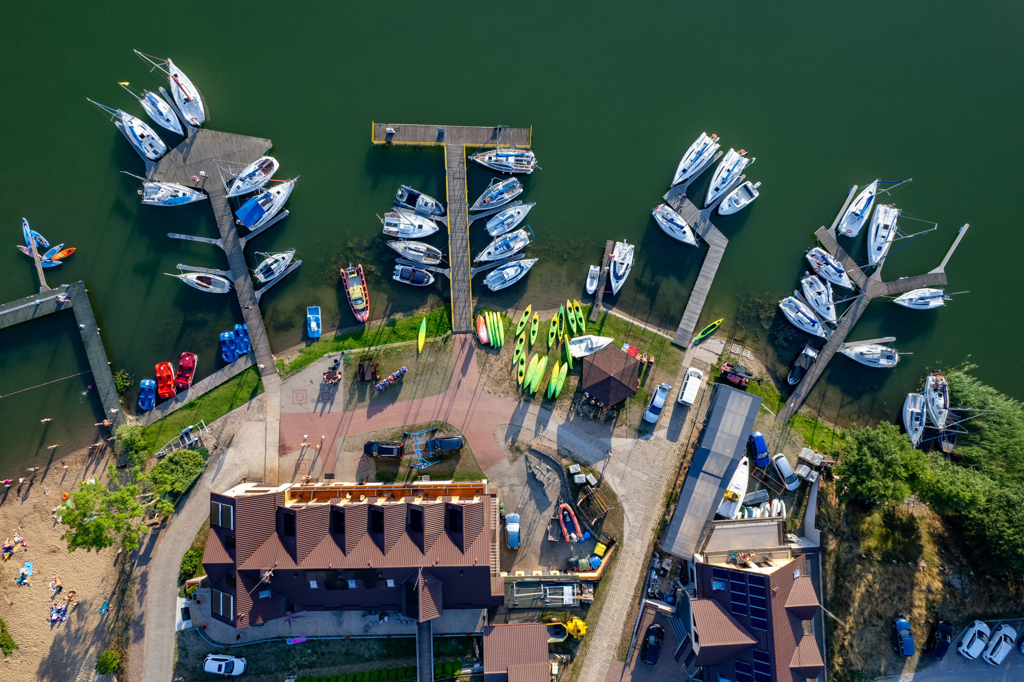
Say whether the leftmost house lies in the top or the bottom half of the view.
bottom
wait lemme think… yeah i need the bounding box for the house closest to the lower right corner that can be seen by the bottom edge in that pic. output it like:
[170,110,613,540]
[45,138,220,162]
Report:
[684,539,823,682]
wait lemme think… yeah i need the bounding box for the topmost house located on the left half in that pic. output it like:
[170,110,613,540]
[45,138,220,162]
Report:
[201,474,509,628]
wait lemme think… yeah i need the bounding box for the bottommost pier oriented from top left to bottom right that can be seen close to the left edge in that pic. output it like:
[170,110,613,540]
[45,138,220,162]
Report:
[0,237,128,431]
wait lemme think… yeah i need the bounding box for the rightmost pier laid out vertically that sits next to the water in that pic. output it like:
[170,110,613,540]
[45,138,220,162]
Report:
[663,151,745,347]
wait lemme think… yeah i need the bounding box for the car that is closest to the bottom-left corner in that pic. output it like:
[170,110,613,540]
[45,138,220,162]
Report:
[202,652,247,678]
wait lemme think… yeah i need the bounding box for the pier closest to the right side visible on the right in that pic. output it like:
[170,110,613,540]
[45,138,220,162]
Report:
[776,185,969,423]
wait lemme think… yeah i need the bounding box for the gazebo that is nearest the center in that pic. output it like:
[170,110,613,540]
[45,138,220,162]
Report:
[582,343,639,406]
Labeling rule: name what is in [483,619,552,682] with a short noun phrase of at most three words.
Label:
shed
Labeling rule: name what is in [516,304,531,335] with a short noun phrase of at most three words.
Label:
boat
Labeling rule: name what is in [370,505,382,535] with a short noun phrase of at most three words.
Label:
solar panel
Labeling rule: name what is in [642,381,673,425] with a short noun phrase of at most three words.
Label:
car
